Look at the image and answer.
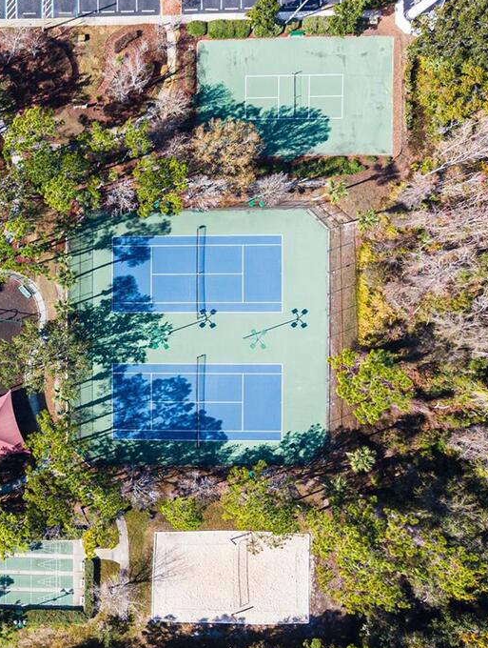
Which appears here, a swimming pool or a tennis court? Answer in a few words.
tennis court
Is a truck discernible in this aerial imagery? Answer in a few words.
No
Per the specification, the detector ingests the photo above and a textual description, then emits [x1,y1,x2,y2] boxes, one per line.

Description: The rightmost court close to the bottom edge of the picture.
[151,530,312,625]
